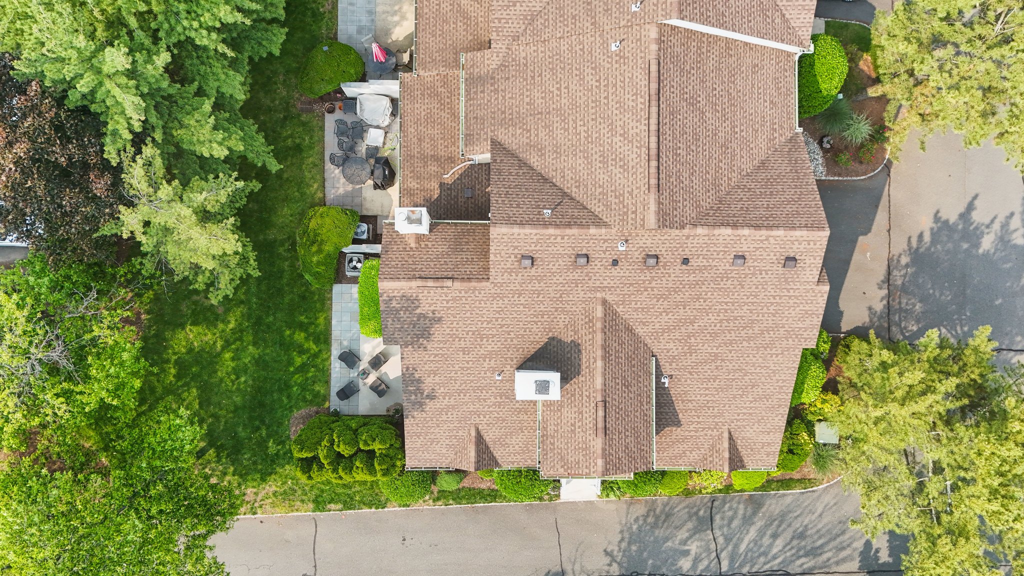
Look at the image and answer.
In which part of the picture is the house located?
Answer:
center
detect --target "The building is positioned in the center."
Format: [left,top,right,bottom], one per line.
[379,0,831,481]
